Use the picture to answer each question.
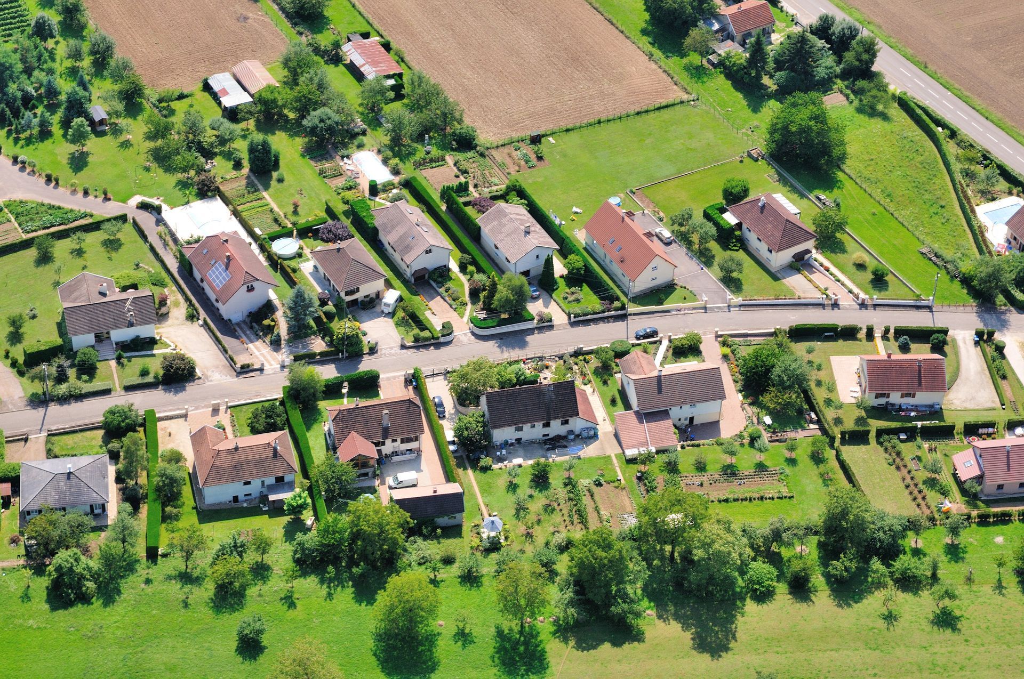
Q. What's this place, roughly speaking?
residential area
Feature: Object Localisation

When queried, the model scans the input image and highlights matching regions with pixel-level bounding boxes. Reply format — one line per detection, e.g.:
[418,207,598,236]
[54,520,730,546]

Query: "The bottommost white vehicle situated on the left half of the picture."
[390,471,419,489]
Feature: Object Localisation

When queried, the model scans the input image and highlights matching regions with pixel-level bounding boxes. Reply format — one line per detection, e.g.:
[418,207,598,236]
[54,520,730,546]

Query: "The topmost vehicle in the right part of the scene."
[655,227,675,243]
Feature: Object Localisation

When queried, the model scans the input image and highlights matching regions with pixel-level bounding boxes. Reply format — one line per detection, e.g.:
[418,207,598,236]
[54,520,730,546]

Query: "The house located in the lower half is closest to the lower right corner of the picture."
[947,439,1024,497]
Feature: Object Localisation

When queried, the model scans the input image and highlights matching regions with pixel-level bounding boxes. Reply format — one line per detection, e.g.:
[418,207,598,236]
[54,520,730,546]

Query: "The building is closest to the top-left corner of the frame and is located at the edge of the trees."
[90,105,111,132]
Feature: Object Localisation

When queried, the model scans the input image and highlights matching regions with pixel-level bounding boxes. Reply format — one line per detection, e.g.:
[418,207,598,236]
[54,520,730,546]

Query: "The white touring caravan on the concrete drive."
[381,288,402,316]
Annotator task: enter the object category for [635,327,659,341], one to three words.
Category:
car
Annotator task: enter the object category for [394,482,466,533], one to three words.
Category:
shed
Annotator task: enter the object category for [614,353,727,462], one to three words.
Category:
house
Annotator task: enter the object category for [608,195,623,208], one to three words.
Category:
swimming pool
